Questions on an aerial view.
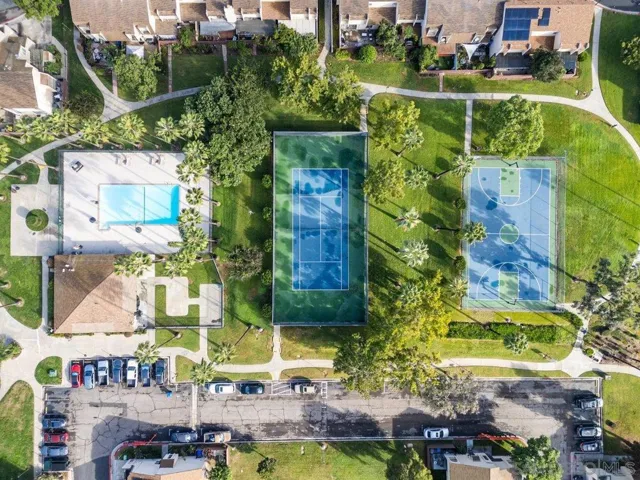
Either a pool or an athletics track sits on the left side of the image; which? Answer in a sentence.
You can see a pool on the left side of the image.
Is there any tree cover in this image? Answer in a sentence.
Yes, there's tree cover in this view.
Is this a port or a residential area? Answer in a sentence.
This looks like a residential area.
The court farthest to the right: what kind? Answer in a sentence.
I'd say the court farthest to the right is a basketball court.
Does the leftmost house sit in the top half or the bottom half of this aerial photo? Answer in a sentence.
The leftmost house is in the top half of the image.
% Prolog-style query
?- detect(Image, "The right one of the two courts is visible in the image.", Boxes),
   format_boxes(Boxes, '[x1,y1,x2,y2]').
[461,159,558,309]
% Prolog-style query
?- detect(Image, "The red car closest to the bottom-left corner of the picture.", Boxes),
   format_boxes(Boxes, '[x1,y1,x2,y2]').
[44,431,71,444]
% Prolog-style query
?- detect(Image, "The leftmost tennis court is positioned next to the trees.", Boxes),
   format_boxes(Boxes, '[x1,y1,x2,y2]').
[274,134,366,323]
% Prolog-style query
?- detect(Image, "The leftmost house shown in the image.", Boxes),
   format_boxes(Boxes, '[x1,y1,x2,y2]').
[0,24,65,122]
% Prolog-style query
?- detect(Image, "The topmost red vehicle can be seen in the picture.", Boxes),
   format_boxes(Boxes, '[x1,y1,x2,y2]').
[69,362,83,388]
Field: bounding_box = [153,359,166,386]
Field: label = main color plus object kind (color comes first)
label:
blue vehicle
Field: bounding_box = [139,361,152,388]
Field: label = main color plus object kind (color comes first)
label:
blue vehicle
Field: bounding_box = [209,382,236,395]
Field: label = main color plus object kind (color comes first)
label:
white vehicle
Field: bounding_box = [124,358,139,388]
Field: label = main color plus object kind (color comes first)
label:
white vehicle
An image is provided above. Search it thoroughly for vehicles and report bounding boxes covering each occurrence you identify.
[44,431,71,444]
[209,382,236,395]
[574,397,603,411]
[42,416,69,430]
[575,425,603,439]
[139,361,152,388]
[239,382,265,395]
[422,426,449,439]
[43,457,71,471]
[41,444,69,458]
[172,429,199,442]
[204,429,232,443]
[577,439,602,454]
[69,362,83,388]
[82,362,97,390]
[124,358,139,388]
[153,359,166,386]
[111,358,124,384]
[293,382,318,395]
[96,358,111,387]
